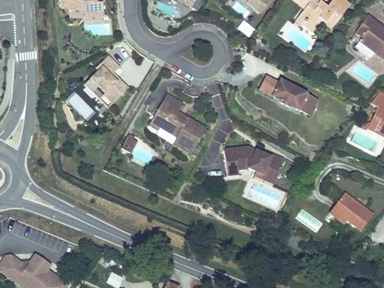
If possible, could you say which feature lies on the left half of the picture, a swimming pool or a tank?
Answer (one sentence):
It is a swimming pool that can be seen on the left half of the picture.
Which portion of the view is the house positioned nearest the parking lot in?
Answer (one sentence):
The house positioned nearest the parking lot is located in the bottom left region of the scene.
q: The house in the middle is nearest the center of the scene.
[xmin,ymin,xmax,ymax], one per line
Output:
[150,92,208,154]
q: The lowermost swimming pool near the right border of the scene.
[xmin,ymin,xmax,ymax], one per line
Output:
[346,124,384,156]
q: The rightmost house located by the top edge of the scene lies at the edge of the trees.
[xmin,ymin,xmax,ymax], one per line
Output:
[353,14,384,60]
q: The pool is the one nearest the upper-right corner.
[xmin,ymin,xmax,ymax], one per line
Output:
[346,59,377,88]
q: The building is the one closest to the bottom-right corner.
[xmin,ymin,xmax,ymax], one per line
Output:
[332,192,374,232]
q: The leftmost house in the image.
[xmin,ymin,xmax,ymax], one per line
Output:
[0,250,69,288]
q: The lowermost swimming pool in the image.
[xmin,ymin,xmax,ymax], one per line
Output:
[242,177,286,211]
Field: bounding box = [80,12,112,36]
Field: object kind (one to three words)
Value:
swimming pool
